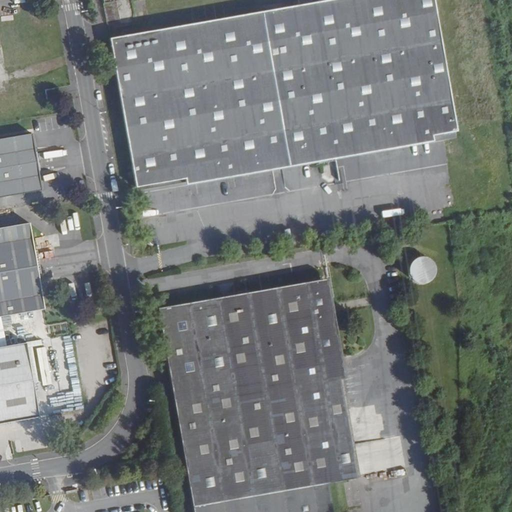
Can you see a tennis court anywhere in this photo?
No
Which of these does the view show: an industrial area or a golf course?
industrial area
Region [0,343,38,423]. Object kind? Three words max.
building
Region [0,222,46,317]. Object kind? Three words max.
building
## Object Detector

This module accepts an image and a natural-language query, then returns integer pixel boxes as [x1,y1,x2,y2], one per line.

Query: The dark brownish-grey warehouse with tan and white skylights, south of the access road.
[160,280,360,512]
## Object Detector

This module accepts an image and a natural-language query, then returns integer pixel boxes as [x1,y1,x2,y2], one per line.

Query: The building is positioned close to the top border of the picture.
[112,0,459,192]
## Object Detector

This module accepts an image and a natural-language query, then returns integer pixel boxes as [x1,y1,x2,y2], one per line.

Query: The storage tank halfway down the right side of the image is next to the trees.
[403,256,438,285]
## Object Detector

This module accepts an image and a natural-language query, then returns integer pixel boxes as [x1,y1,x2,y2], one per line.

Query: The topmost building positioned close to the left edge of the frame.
[0,133,42,197]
